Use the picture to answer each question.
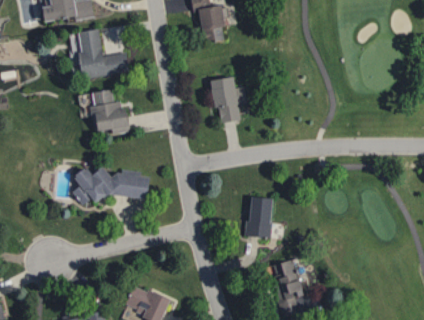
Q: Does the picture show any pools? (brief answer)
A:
Yes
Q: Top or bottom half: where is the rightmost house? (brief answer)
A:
bottom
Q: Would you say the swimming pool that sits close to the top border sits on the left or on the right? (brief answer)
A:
left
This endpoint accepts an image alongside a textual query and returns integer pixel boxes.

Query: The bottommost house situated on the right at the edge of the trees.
[273,260,304,311]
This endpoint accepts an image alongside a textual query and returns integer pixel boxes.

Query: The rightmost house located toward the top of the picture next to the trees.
[209,76,243,124]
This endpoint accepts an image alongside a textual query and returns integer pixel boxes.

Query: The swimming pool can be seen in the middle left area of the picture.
[49,164,76,207]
